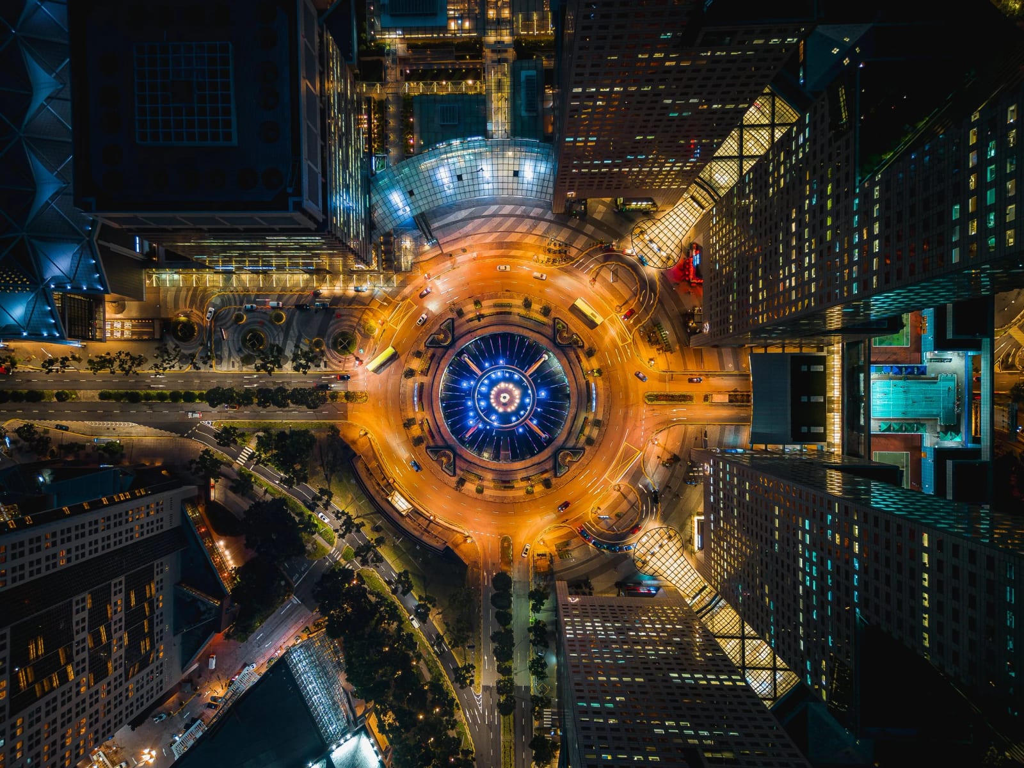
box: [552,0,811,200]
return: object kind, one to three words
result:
building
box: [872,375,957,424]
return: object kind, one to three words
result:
swimming pool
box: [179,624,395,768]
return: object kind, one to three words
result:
building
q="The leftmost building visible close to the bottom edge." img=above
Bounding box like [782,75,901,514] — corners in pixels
[0,491,184,768]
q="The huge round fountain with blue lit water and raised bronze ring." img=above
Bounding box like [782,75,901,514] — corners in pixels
[428,321,582,474]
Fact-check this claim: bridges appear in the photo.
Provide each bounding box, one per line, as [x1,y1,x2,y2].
[484,38,512,75]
